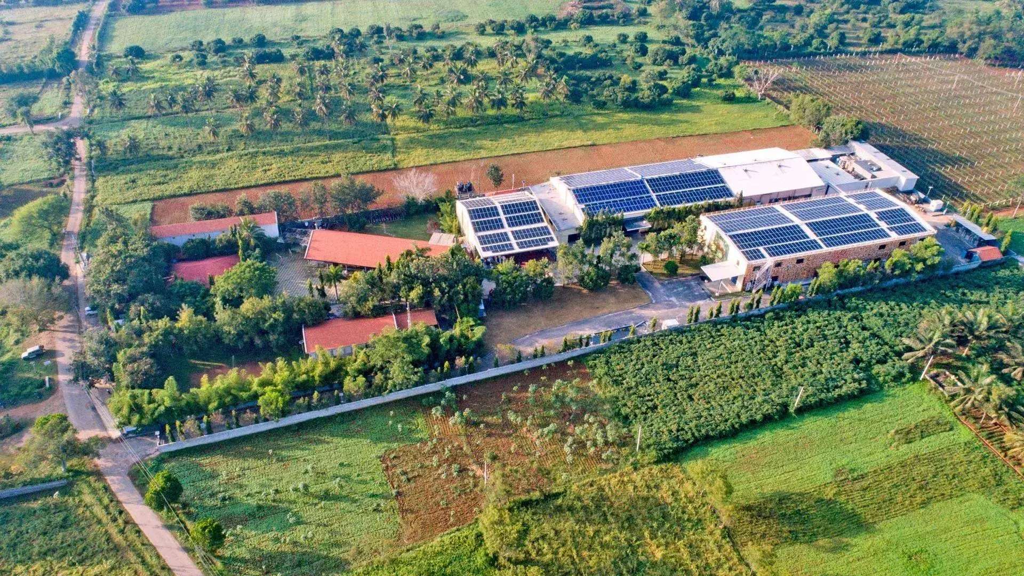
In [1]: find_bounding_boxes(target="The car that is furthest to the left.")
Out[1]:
[19,342,48,359]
